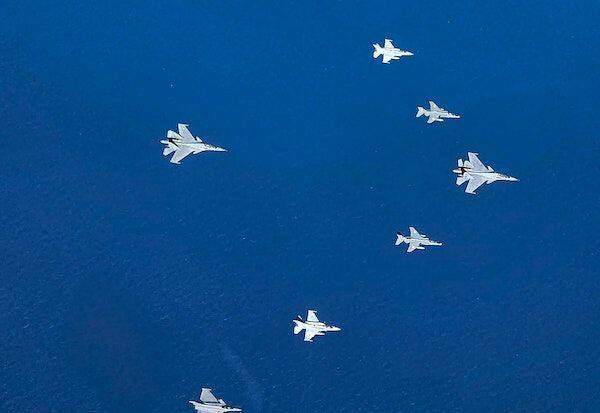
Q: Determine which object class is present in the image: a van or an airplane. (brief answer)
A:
airplane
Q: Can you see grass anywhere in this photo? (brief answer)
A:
No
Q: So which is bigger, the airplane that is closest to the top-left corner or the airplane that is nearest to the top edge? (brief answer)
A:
the airplane that is closest to the top-left corner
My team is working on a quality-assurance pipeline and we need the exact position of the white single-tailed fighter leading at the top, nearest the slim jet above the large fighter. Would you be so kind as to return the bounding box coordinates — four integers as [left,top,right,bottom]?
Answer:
[373,39,414,64]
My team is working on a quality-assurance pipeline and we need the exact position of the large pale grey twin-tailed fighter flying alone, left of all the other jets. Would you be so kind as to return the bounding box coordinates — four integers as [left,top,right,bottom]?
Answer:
[161,124,227,163]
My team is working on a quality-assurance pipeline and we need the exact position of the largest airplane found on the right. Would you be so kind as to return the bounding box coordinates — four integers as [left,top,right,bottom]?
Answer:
[453,153,521,194]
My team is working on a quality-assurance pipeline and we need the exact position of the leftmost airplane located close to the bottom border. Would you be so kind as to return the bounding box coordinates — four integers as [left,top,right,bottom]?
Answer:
[189,388,242,413]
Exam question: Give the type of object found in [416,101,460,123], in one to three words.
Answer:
airplane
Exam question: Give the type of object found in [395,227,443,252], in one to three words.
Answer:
airplane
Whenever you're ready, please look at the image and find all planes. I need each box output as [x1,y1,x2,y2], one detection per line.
[189,388,242,413]
[373,39,414,64]
[161,124,227,163]
[395,227,443,252]
[293,310,340,342]
[416,101,460,123]
[453,153,521,194]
